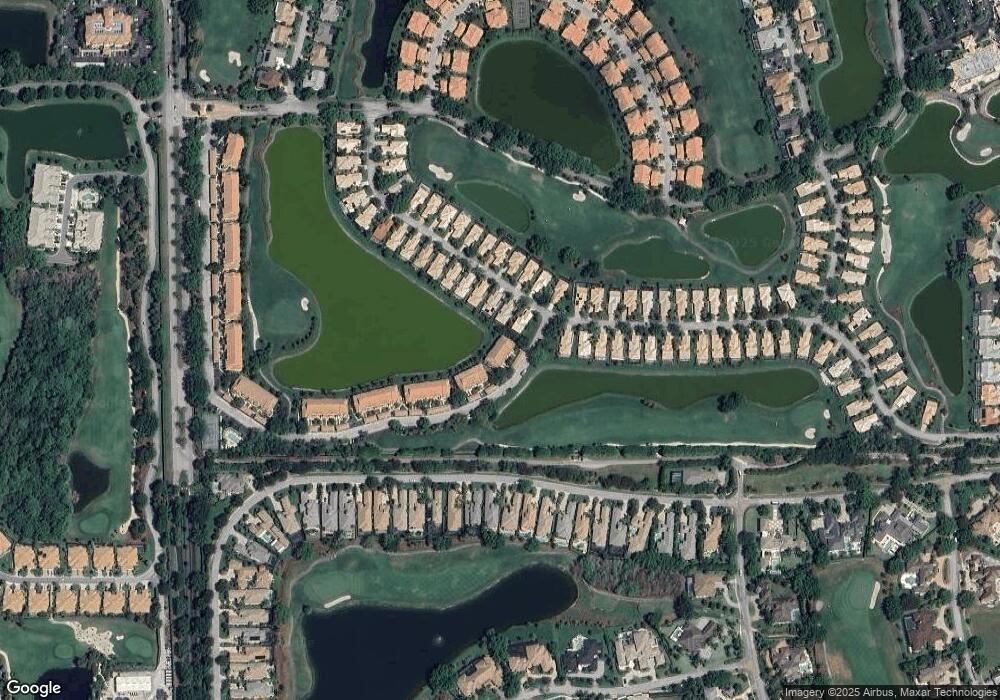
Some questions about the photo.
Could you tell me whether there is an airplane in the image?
No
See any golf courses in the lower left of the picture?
Yes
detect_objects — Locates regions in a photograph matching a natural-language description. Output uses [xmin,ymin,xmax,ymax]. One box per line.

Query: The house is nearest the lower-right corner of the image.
[926,659,962,694]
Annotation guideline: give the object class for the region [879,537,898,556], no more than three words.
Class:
swimming pool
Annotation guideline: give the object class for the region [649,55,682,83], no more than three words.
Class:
house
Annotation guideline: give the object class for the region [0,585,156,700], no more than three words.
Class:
golf course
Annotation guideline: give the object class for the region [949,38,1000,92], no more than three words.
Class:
building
